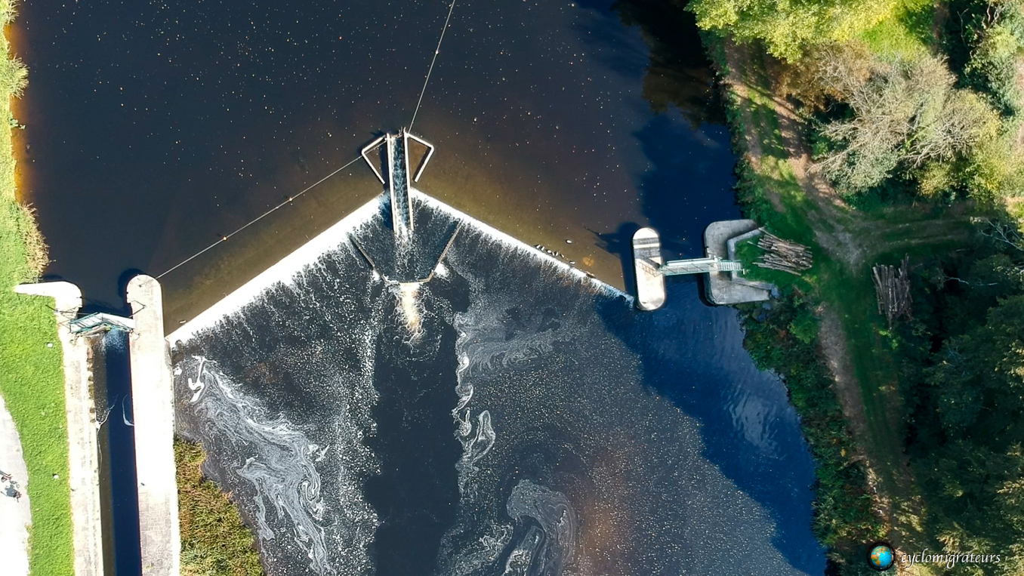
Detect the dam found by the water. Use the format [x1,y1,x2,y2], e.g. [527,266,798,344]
[168,187,633,358]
